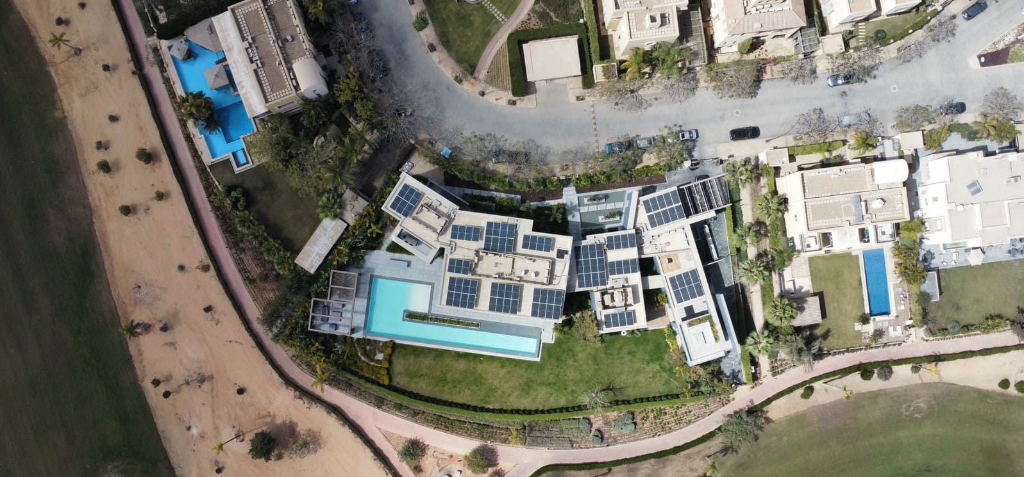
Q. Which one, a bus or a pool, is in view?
pool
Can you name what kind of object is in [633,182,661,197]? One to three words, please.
car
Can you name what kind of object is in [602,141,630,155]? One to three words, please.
car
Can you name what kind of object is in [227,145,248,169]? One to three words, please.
swimming pool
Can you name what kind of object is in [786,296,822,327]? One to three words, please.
building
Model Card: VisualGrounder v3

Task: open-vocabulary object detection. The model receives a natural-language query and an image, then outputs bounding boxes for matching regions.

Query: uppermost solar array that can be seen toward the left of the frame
[390,184,422,217]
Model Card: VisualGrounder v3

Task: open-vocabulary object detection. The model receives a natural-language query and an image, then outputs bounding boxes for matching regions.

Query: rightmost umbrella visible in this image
[962,248,982,264]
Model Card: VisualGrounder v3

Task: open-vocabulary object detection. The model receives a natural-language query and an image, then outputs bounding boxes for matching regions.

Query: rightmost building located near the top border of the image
[856,0,923,30]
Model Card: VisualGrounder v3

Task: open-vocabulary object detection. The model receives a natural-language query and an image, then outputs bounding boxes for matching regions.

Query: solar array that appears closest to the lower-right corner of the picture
[670,269,704,304]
